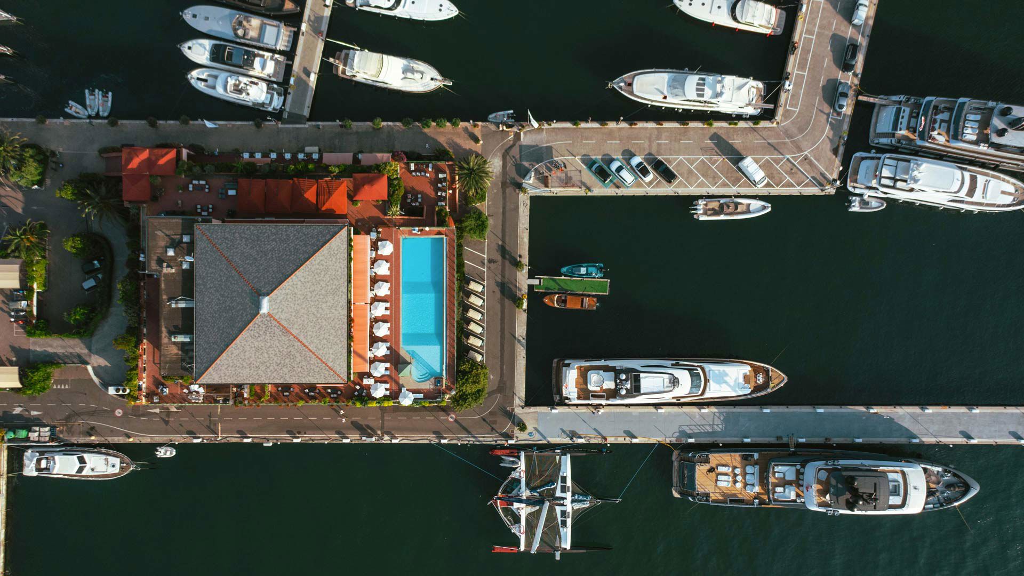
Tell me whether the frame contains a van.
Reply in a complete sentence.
Yes, a van can be made out from above.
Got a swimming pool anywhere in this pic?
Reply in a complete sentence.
Yes, a swimming pool can be made out from above.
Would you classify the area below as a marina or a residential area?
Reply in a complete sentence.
The picture captures a marina.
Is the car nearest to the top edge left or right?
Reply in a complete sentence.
The car nearest to the top edge sits on the right side.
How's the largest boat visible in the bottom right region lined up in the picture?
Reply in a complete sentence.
Seen from above, the largest boat visible in the bottom right region lies from side to side.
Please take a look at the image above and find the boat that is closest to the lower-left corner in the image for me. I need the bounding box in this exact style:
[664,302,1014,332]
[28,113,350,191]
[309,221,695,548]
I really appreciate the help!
[24,448,140,480]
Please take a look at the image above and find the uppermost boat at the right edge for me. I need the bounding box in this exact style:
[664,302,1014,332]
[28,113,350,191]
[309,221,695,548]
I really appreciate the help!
[864,95,1024,169]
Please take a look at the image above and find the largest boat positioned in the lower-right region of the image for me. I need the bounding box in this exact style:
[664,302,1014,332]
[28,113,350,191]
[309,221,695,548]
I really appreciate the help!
[671,447,980,514]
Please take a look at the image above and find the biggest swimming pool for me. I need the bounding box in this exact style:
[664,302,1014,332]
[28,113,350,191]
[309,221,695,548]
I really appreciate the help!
[400,231,446,389]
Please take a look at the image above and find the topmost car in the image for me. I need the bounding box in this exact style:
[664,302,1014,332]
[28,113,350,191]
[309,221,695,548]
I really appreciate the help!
[849,0,869,30]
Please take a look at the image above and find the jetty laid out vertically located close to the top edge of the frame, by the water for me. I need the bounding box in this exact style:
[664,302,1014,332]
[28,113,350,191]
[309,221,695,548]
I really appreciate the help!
[284,0,335,122]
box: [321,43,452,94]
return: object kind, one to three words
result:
boat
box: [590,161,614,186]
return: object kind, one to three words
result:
car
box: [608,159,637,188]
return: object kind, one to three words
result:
car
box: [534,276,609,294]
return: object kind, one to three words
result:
pier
